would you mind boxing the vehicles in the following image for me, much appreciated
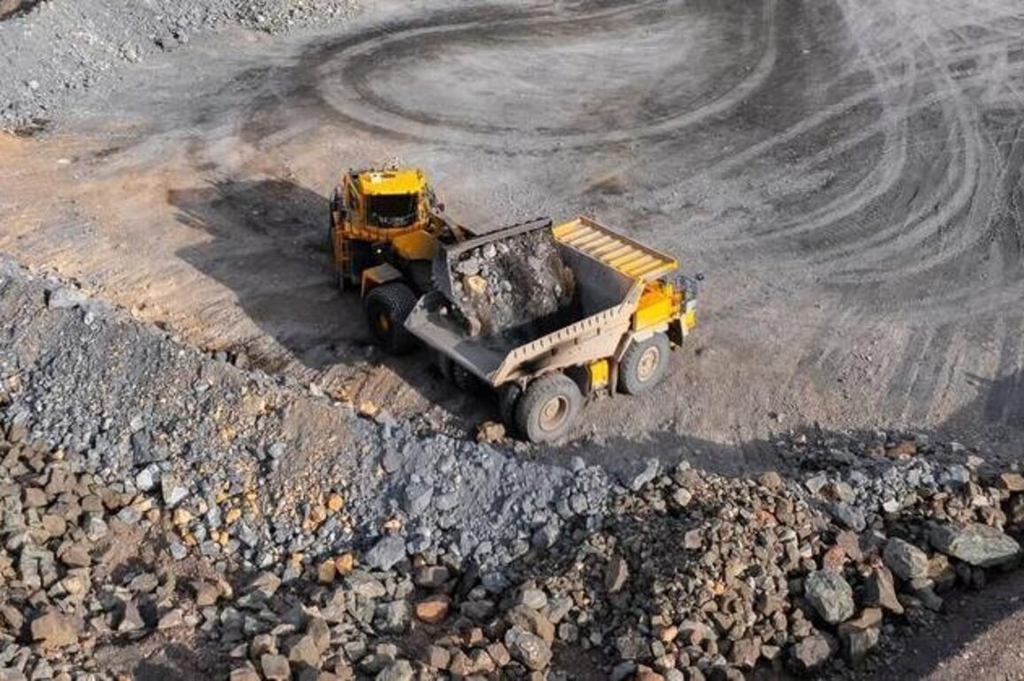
[338,163,585,355]
[404,212,705,446]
